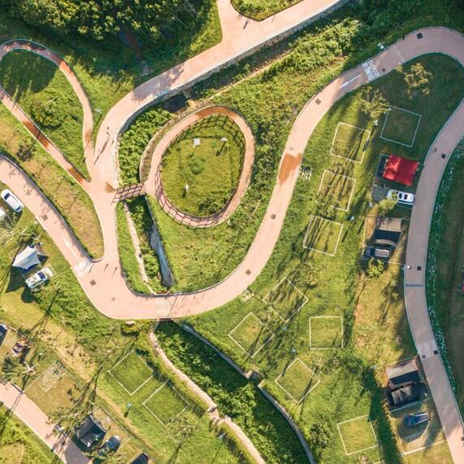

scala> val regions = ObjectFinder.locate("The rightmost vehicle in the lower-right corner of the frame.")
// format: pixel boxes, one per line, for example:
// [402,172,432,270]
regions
[402,411,431,427]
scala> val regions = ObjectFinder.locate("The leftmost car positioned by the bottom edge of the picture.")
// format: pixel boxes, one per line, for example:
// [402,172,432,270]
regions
[99,431,124,456]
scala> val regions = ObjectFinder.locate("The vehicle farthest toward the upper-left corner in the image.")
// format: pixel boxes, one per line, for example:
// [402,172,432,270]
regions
[2,188,26,215]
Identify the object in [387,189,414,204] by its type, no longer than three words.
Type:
car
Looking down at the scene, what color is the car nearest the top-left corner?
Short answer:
white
